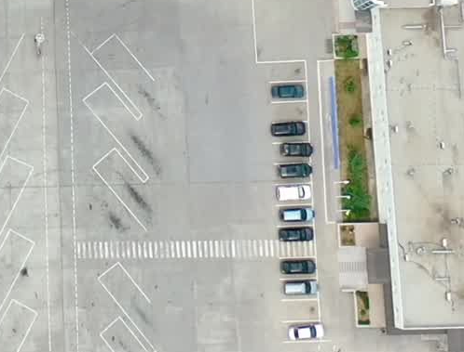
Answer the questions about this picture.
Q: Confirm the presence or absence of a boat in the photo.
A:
No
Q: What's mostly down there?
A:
paved ground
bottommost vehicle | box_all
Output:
[287,323,323,340]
